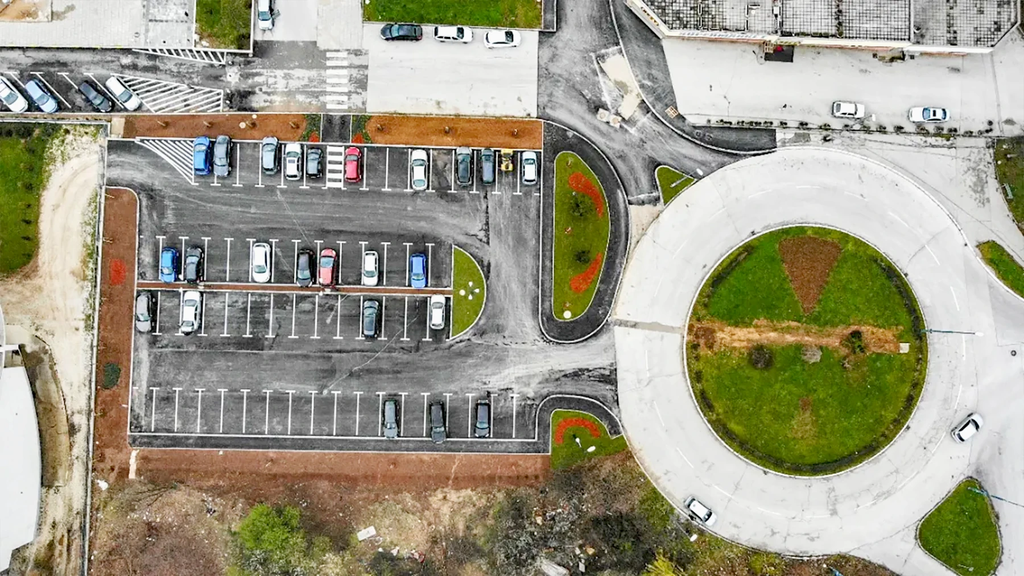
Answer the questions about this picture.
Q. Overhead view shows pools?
No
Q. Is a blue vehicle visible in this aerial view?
Yes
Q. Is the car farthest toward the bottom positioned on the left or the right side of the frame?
right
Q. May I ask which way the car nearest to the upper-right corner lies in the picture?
from left to right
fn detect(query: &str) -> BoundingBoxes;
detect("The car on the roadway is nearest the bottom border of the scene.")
[681,493,718,527]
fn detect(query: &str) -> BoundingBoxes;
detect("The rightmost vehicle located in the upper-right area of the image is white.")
[905,103,951,124]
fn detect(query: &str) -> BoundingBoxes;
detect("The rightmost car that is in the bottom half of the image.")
[947,410,984,444]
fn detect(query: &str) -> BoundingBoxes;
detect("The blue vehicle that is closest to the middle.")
[408,251,427,289]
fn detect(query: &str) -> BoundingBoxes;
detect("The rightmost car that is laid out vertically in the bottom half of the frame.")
[473,398,492,439]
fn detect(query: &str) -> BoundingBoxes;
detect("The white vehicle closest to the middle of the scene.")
[428,293,447,331]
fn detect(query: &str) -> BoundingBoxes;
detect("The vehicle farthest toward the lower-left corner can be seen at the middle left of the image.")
[132,292,156,333]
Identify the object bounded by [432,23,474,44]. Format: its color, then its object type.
white car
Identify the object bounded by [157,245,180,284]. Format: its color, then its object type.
blue car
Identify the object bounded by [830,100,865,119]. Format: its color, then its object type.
white car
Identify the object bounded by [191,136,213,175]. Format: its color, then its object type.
blue car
